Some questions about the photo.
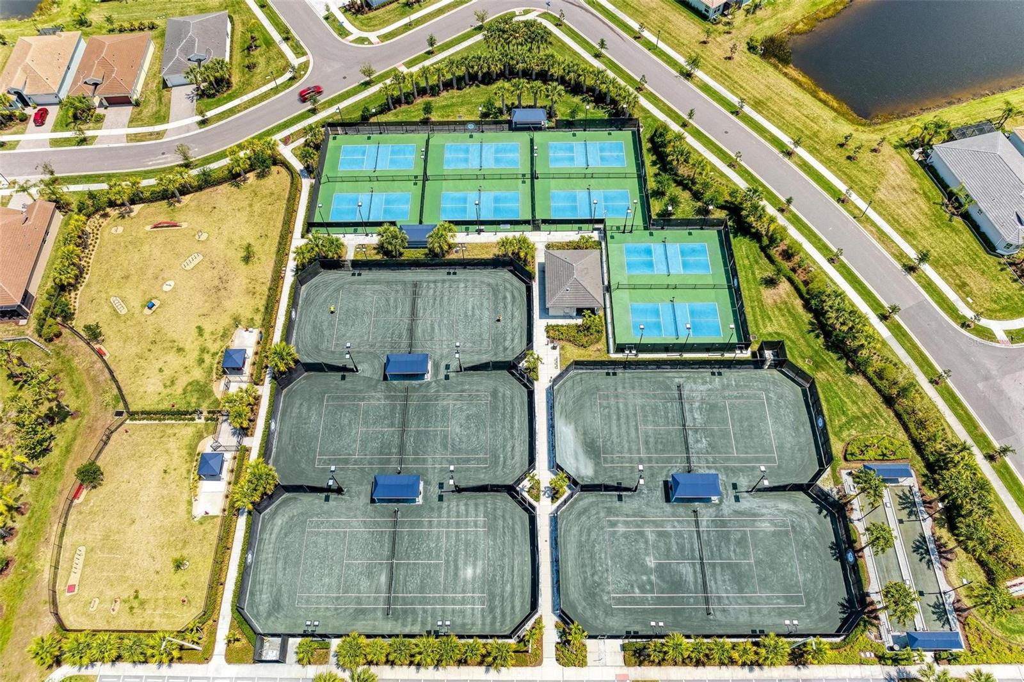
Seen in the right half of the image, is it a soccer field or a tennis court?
tennis court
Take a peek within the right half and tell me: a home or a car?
home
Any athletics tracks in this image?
No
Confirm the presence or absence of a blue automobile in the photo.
No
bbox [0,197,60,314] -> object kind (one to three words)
house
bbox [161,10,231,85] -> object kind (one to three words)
house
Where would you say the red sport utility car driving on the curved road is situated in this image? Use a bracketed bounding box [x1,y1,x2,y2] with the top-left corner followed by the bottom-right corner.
[297,85,323,102]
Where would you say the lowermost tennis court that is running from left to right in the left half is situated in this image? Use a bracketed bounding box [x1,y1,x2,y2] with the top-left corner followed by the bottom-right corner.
[244,491,536,632]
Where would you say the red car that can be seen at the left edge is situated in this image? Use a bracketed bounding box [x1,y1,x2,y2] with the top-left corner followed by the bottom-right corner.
[29,108,47,127]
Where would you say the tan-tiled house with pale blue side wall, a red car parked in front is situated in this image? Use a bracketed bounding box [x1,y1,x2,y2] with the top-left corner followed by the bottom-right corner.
[0,31,86,114]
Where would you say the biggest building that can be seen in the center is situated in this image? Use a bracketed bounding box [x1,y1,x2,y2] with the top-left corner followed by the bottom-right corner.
[544,250,604,315]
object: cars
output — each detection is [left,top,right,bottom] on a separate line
[29,108,47,127]
[297,85,323,102]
